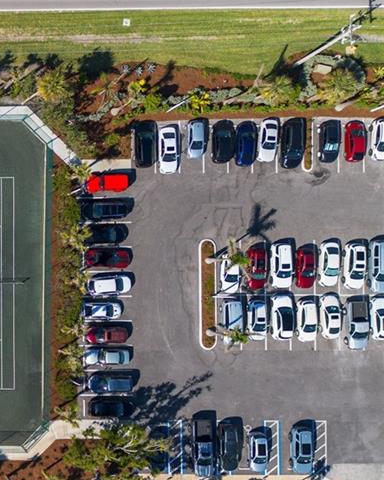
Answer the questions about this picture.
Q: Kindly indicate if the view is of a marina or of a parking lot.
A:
parking lot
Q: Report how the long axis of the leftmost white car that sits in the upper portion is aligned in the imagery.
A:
from top to bottom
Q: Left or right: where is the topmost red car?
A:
right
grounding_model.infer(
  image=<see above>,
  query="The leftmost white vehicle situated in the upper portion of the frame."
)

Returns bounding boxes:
[156,127,179,173]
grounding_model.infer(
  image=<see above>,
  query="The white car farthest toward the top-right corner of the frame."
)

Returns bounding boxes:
[364,120,384,161]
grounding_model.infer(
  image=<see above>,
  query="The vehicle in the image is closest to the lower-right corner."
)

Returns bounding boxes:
[288,425,314,470]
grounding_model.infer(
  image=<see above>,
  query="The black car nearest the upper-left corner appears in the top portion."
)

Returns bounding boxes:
[133,121,158,167]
